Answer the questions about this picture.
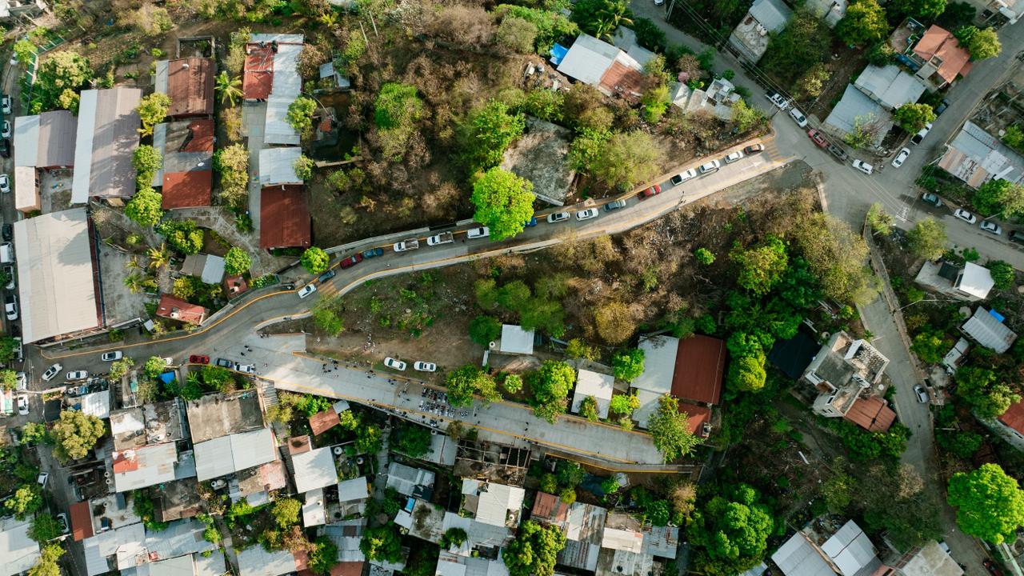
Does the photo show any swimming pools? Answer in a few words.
No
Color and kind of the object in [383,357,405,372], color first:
white car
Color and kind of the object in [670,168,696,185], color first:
white vehicle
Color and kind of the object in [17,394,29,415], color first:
white vehicle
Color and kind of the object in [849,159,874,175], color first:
white car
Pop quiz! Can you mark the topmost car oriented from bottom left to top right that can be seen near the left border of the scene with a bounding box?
[41,363,62,381]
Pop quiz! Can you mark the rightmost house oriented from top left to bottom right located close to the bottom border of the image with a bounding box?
[812,514,896,576]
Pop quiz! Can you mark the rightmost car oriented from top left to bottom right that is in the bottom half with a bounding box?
[982,556,1002,576]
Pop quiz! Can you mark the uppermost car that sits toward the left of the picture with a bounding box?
[8,52,21,71]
